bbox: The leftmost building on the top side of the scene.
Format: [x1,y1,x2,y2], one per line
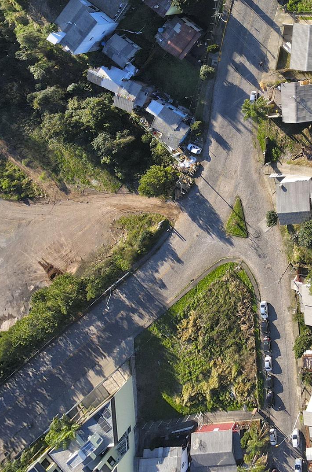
[46,0,115,54]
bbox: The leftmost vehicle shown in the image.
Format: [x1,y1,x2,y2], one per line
[182,143,203,156]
